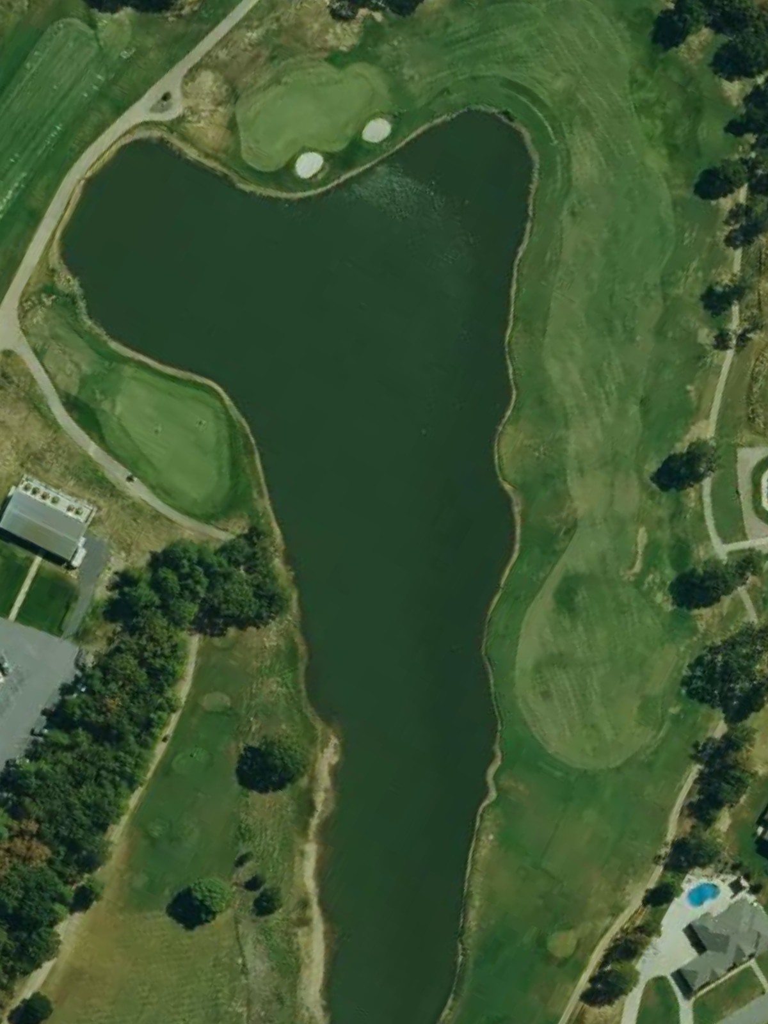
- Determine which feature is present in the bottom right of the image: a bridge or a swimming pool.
swimming pool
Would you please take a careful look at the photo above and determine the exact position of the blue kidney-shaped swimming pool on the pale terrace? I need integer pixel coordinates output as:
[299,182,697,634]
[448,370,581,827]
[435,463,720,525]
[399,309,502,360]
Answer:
[686,881,721,909]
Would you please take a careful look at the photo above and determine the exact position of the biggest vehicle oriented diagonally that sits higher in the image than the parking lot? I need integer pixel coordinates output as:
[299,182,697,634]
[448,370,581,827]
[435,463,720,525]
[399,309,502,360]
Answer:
[70,546,86,566]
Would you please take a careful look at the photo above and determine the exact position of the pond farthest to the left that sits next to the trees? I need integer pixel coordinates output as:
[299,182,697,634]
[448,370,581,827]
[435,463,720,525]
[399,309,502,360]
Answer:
[61,108,533,1024]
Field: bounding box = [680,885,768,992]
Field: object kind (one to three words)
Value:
house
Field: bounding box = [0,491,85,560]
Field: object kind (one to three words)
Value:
building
